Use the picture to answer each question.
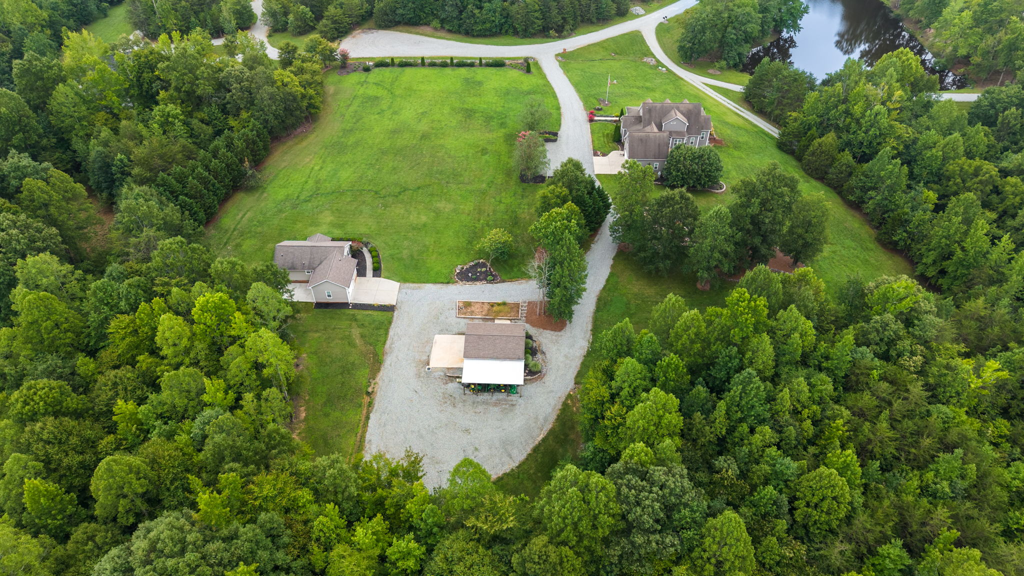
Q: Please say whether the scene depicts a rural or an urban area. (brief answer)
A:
rural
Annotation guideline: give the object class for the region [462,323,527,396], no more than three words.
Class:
shed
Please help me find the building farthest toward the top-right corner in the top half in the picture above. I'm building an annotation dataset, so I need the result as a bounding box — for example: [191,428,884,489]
[619,95,723,173]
